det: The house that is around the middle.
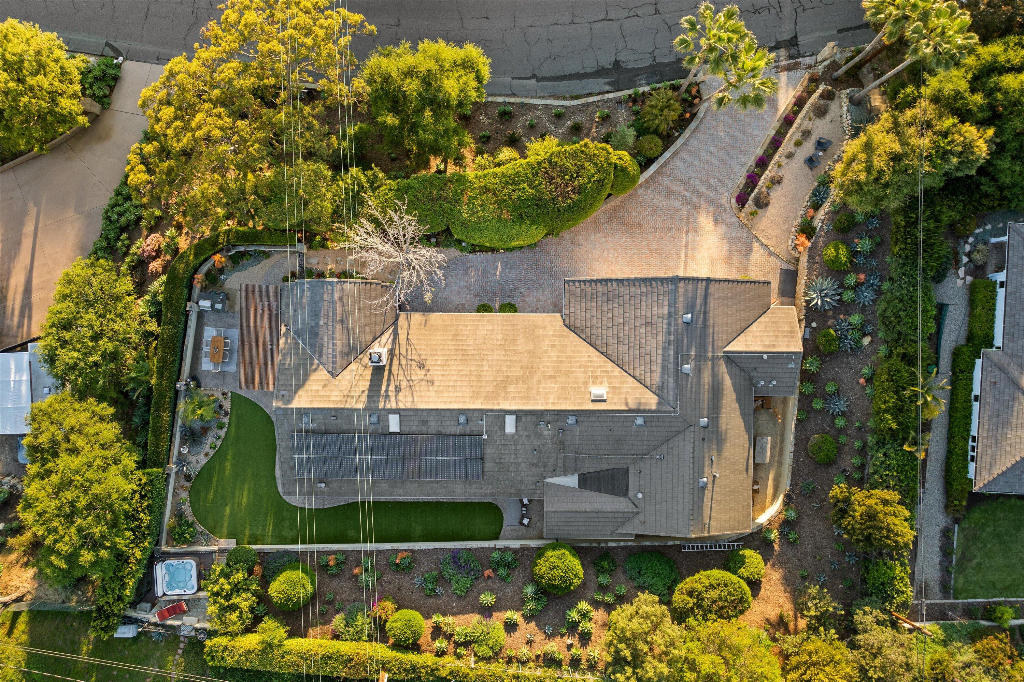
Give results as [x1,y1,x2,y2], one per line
[271,274,805,540]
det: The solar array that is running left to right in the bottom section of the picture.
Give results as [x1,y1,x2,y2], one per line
[291,434,482,480]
